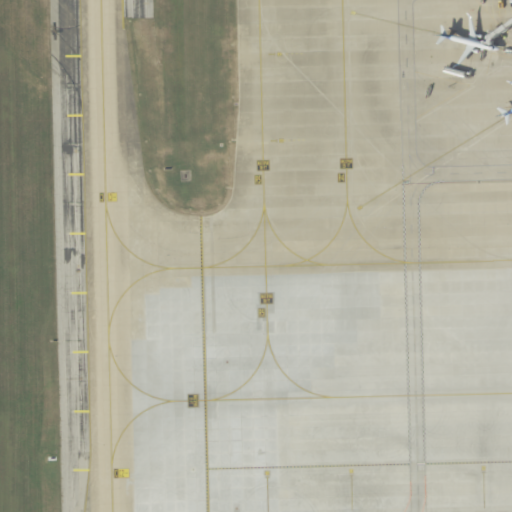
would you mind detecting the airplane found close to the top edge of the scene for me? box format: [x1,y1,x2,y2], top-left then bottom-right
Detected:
[436,14,498,64]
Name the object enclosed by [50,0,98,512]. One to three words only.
runway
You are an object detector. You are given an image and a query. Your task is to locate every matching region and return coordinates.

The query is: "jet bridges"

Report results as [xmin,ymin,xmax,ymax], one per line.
[486,18,512,46]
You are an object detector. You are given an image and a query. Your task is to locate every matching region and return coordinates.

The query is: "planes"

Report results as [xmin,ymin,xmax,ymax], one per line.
[436,14,498,64]
[498,108,512,124]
